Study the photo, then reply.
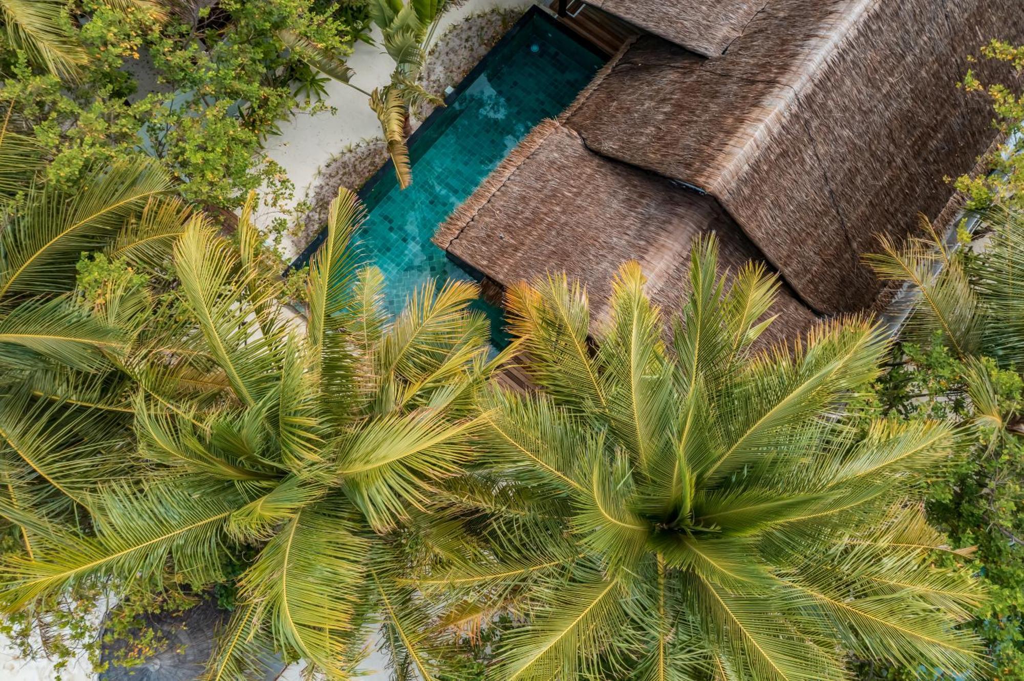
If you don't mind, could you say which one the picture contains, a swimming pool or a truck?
swimming pool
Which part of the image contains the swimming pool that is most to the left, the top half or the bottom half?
top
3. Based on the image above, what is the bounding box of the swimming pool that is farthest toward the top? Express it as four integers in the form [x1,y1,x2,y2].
[259,9,613,400]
